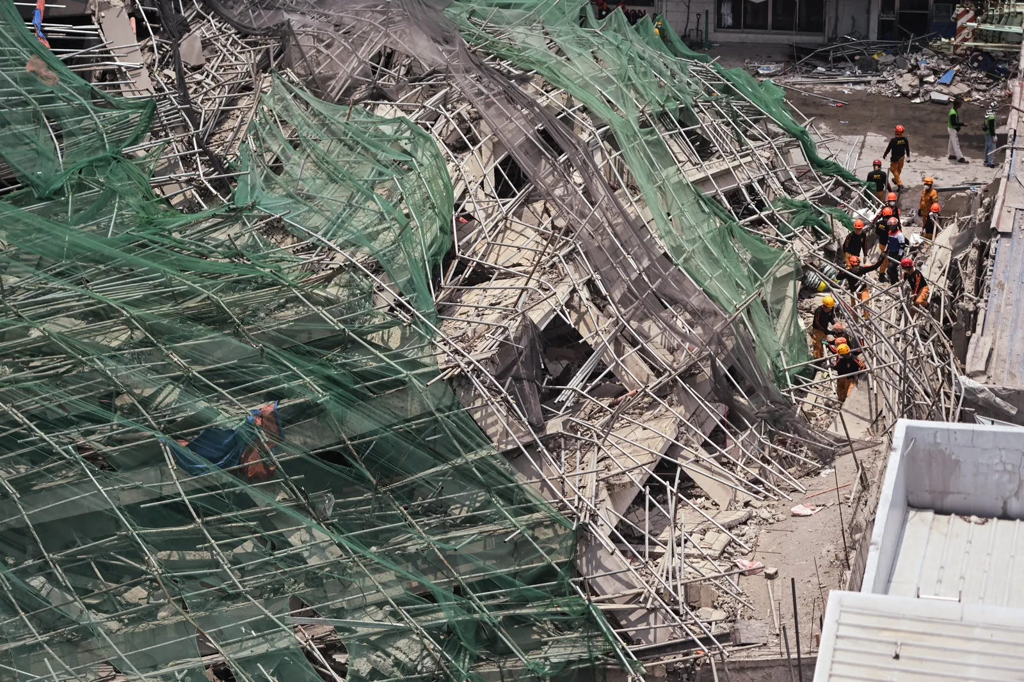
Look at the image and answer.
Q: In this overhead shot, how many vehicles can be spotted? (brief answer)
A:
0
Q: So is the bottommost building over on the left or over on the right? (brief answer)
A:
right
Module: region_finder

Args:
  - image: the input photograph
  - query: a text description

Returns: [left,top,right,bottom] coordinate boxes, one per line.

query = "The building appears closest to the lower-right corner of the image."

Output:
[814,419,1024,682]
